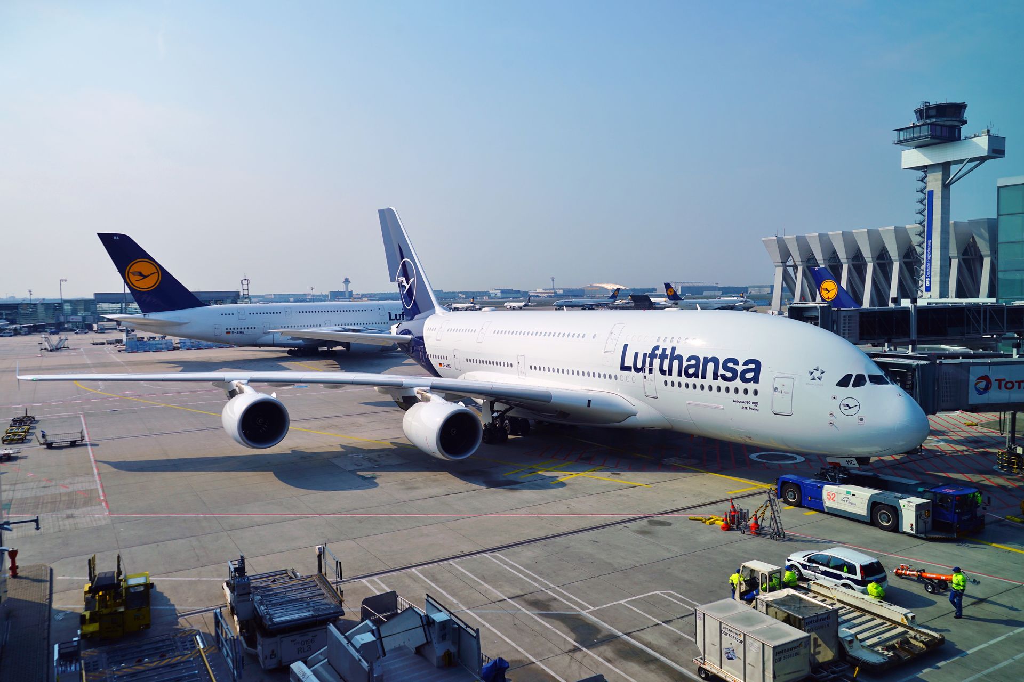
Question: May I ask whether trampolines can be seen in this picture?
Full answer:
No, I can't see a single trampoline in this photo.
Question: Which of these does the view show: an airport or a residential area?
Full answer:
What you see here is an airport.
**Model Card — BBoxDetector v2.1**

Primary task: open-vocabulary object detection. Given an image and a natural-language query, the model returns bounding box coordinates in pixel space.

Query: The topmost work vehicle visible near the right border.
[774,469,1010,545]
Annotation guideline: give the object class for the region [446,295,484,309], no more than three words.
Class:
airplane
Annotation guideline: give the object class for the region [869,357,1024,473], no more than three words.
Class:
jet bridge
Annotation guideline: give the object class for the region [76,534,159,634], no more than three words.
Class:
work vehicle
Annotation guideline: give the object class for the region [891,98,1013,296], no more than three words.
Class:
building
